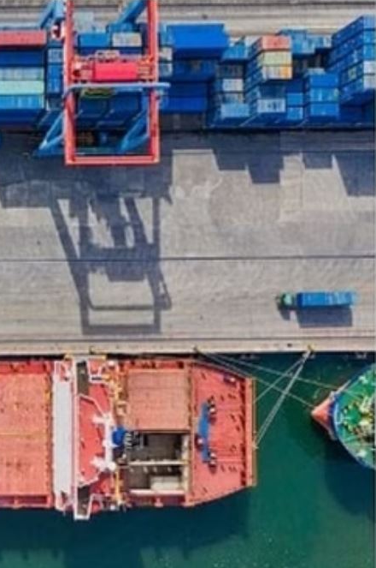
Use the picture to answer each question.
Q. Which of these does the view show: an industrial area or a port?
port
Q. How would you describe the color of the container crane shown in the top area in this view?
red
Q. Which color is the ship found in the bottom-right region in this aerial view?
green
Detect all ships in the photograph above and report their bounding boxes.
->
[0,352,256,520]
[315,362,376,476]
